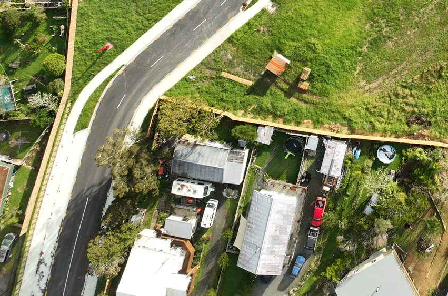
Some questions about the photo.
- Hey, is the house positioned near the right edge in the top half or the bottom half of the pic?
bottom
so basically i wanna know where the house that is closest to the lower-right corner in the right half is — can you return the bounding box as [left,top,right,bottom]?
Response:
[334,244,428,296]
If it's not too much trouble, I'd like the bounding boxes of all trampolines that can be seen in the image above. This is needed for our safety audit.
[0,131,9,147]
[282,138,303,161]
